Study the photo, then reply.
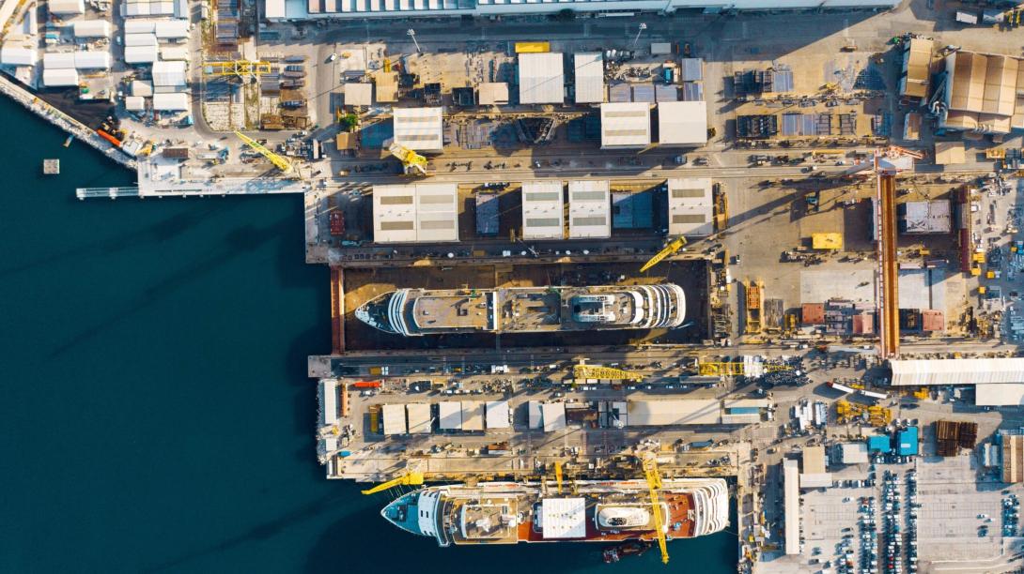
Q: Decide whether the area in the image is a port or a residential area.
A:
port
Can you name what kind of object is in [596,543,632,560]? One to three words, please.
boat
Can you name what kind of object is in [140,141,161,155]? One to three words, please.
work vehicle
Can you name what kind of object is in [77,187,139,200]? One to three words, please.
pier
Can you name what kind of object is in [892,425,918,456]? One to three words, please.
building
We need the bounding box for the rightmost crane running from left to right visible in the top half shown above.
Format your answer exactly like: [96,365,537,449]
[894,148,951,163]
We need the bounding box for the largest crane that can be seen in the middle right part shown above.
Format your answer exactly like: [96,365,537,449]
[814,149,900,358]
